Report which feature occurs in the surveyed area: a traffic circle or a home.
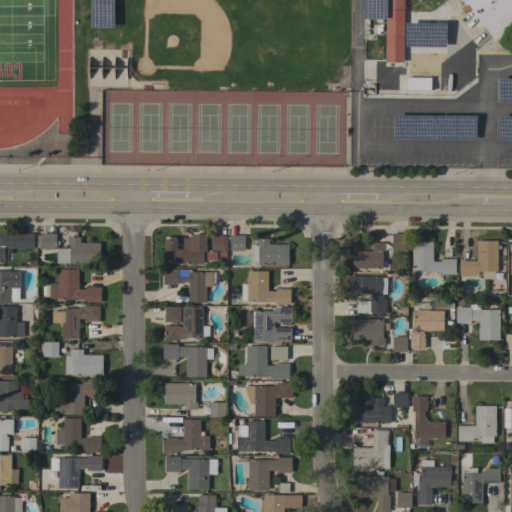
home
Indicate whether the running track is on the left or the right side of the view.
left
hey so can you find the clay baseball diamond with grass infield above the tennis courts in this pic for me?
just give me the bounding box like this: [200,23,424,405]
[138,0,231,80]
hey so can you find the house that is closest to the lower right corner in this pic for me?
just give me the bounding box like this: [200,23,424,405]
[464,468,502,504]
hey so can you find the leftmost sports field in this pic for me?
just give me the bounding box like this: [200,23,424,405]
[0,0,57,86]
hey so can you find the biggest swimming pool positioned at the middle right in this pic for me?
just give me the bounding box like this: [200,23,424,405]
[388,276,406,304]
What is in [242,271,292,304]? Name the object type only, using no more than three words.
house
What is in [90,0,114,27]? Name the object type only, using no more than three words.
solar panel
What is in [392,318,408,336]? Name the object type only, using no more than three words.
swimming pool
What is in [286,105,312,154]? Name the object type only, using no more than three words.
tennis court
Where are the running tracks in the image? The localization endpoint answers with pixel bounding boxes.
[0,0,74,150]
